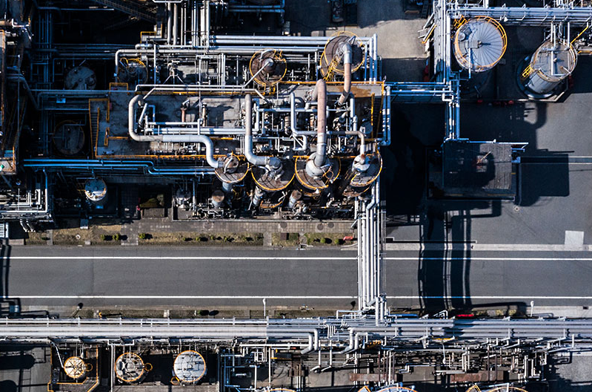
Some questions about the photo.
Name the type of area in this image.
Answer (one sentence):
What you see here is an industrial area.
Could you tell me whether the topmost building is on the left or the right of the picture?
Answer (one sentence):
You can find the topmost building on the right side of the picture.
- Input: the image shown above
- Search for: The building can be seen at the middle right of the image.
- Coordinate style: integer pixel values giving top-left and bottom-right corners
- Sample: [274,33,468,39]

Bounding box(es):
[430,140,526,201]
